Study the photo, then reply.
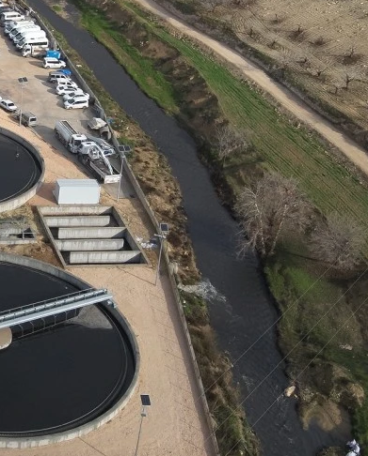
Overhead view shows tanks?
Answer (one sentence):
Yes, there's a tank down there.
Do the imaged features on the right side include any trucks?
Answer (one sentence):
No, on the right side there is no truck.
